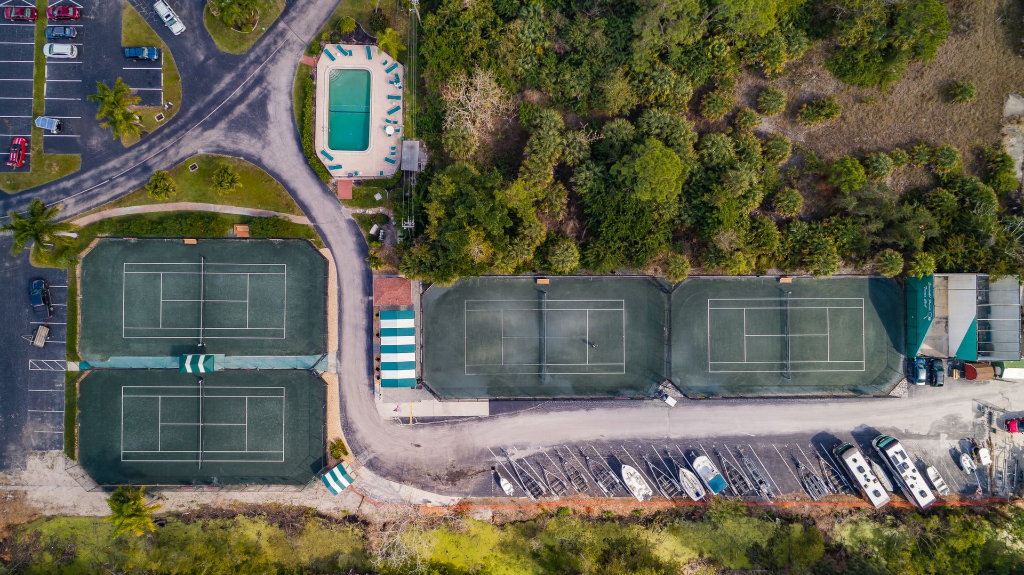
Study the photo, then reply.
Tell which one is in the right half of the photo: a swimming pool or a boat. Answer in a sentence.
There is a boat in the right half of the photo.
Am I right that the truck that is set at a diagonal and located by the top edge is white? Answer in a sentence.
Yes, the truck that is set at a diagonal and located by the top edge is white.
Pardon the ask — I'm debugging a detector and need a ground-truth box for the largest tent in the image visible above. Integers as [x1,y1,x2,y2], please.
[322,460,357,495]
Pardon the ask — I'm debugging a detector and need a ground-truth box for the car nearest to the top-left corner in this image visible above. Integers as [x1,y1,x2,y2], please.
[5,5,41,22]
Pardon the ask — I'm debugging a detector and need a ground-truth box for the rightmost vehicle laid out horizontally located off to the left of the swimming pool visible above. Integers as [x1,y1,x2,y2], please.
[125,45,160,62]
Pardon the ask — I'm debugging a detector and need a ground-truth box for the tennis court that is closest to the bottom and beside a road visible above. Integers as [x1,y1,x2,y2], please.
[80,370,323,486]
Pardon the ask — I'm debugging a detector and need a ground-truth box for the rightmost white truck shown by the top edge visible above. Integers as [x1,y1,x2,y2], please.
[152,0,186,36]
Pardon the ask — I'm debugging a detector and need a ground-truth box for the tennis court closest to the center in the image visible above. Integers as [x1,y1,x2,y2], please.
[423,277,666,400]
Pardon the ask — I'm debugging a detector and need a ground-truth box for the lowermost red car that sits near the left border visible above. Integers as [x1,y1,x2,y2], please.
[7,135,30,169]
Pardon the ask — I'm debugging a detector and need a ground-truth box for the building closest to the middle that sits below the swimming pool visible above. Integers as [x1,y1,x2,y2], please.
[374,277,412,306]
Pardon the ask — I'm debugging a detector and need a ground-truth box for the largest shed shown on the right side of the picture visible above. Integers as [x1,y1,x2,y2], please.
[966,363,1004,383]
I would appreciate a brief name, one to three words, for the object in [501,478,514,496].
boat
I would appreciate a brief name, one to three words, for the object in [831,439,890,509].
camper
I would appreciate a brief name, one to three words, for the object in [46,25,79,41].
car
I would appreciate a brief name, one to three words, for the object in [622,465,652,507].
boat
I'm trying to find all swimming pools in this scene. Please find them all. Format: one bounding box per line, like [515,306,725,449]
[315,44,402,178]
